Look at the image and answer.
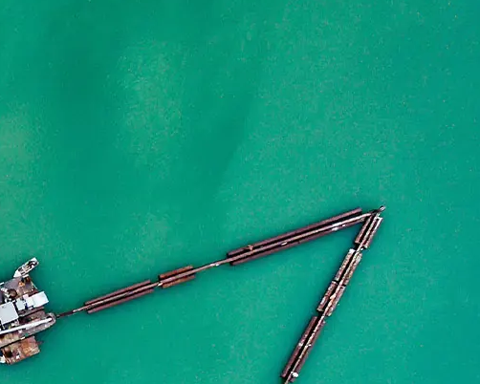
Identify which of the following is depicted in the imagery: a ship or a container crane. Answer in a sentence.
The image shows a ship.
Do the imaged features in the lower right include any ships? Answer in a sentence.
No, I see no ship in the lower right.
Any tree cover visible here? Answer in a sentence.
No, no tree cover is visible.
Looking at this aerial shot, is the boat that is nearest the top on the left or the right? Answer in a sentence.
The boat that is nearest the top appears in the left half of the scene.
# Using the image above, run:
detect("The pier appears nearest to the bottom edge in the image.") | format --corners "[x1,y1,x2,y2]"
[280,315,326,384]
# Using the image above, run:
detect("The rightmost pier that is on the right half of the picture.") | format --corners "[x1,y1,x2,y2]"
[354,215,382,250]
